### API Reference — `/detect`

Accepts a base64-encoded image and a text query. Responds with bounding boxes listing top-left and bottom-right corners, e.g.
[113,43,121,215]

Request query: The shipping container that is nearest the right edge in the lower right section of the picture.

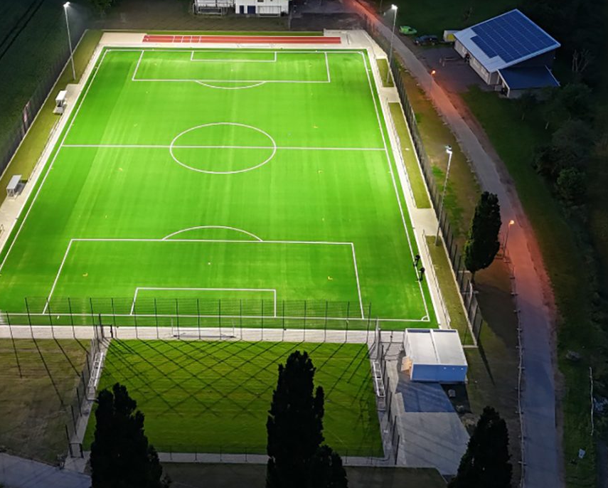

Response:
[434,329,470,383]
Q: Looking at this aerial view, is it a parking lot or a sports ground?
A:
sports ground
